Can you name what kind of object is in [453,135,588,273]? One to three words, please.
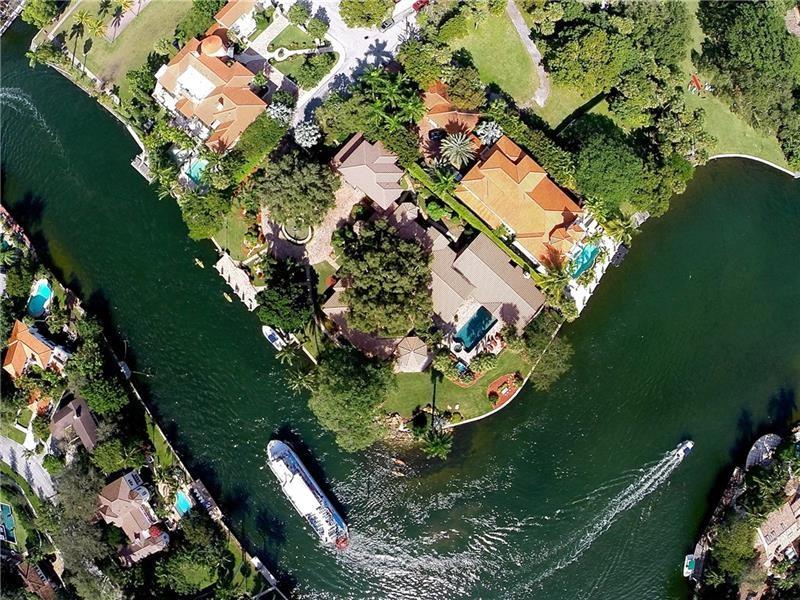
house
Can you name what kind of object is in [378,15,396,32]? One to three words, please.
vehicle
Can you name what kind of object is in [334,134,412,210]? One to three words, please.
house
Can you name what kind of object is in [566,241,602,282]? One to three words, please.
swimming pool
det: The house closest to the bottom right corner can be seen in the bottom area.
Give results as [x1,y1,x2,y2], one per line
[749,491,800,556]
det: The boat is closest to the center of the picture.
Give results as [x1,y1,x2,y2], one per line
[265,326,288,352]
